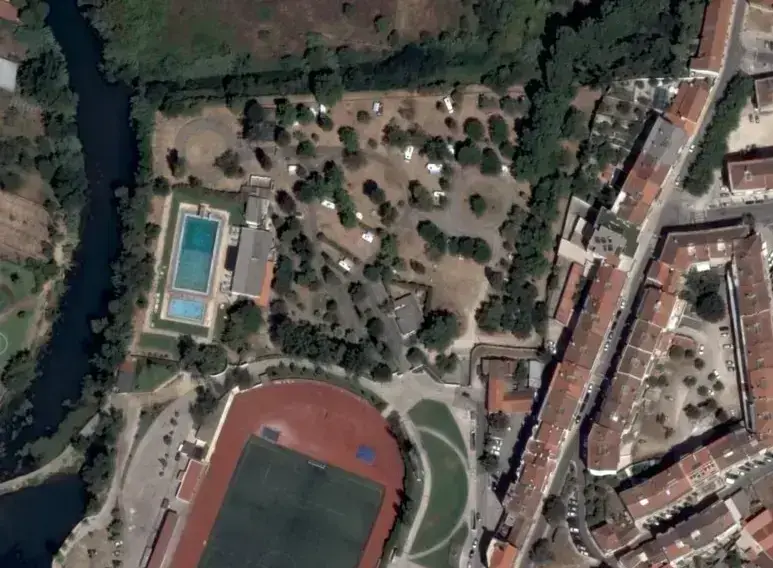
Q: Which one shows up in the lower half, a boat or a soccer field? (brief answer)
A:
soccer field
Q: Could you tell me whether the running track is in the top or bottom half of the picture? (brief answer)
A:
bottom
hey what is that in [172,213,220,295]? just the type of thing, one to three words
swimming pool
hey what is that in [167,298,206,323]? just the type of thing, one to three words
swimming pool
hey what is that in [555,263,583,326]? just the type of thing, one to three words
shed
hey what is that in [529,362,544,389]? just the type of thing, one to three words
building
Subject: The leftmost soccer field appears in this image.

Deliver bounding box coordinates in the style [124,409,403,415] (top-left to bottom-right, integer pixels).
[0,316,30,373]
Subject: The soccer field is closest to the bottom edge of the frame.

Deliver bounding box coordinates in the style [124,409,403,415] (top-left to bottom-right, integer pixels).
[202,437,384,568]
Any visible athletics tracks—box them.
[171,380,405,568]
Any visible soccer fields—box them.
[202,437,384,568]
[0,316,30,373]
